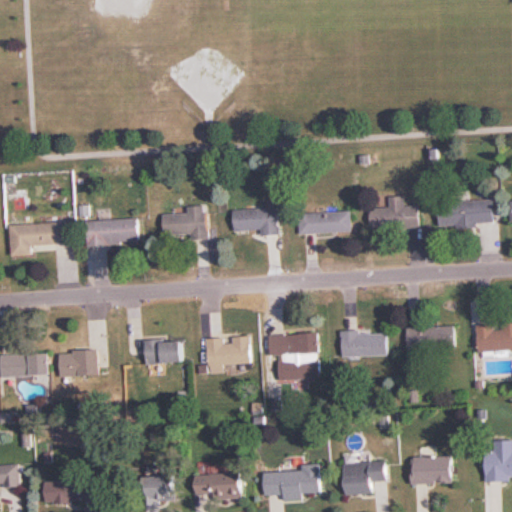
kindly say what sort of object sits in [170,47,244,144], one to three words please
baseball field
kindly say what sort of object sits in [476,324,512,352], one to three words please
house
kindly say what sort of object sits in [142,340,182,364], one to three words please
house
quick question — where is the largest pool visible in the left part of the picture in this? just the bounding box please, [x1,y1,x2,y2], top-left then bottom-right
[18,380,46,402]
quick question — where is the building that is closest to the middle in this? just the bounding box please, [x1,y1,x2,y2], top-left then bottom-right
[232,208,280,236]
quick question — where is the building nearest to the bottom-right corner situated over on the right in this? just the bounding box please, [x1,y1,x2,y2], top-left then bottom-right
[483,440,512,484]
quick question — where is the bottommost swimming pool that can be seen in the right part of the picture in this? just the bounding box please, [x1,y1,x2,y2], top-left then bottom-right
[346,432,364,458]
